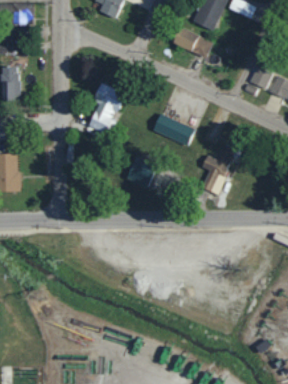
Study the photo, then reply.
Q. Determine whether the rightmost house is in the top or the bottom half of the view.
top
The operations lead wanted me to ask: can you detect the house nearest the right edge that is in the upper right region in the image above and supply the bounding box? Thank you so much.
[268,76,288,102]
